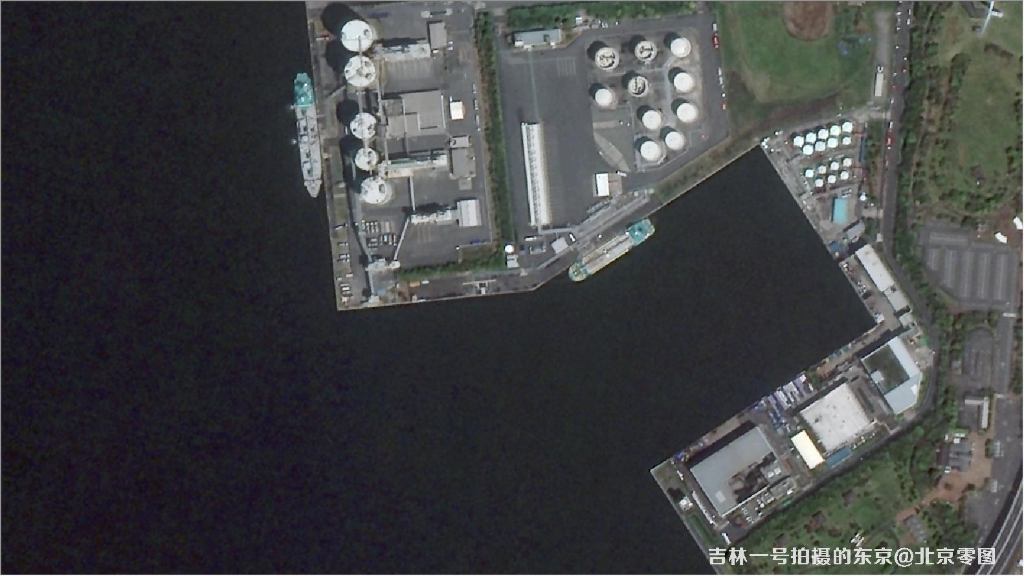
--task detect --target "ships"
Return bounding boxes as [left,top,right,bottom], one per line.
[557,214,655,281]
[294,70,326,197]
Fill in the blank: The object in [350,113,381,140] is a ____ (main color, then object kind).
white silo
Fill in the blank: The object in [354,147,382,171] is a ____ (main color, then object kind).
white silo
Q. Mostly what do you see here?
water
